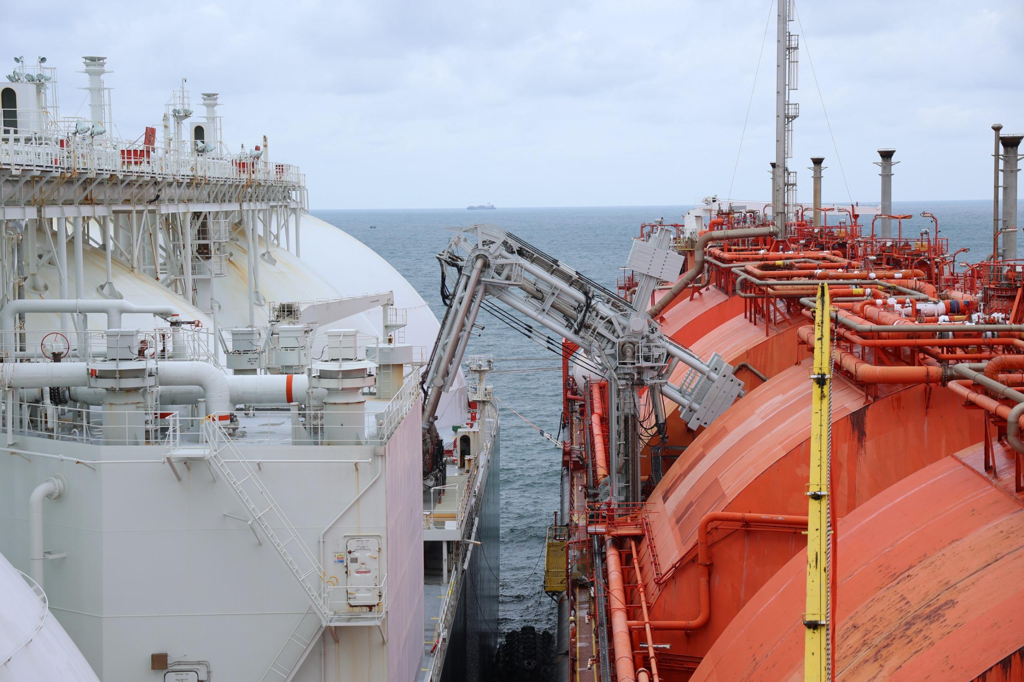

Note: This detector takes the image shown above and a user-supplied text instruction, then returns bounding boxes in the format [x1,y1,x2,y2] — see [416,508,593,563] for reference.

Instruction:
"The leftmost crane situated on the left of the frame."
[267,287,395,374]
